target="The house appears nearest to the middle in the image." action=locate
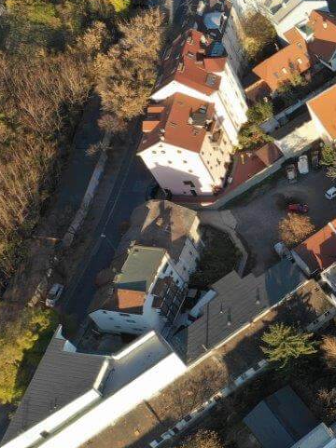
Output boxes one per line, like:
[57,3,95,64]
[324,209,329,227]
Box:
[117,200,211,284]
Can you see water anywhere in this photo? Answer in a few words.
No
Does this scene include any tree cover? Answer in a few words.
Yes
